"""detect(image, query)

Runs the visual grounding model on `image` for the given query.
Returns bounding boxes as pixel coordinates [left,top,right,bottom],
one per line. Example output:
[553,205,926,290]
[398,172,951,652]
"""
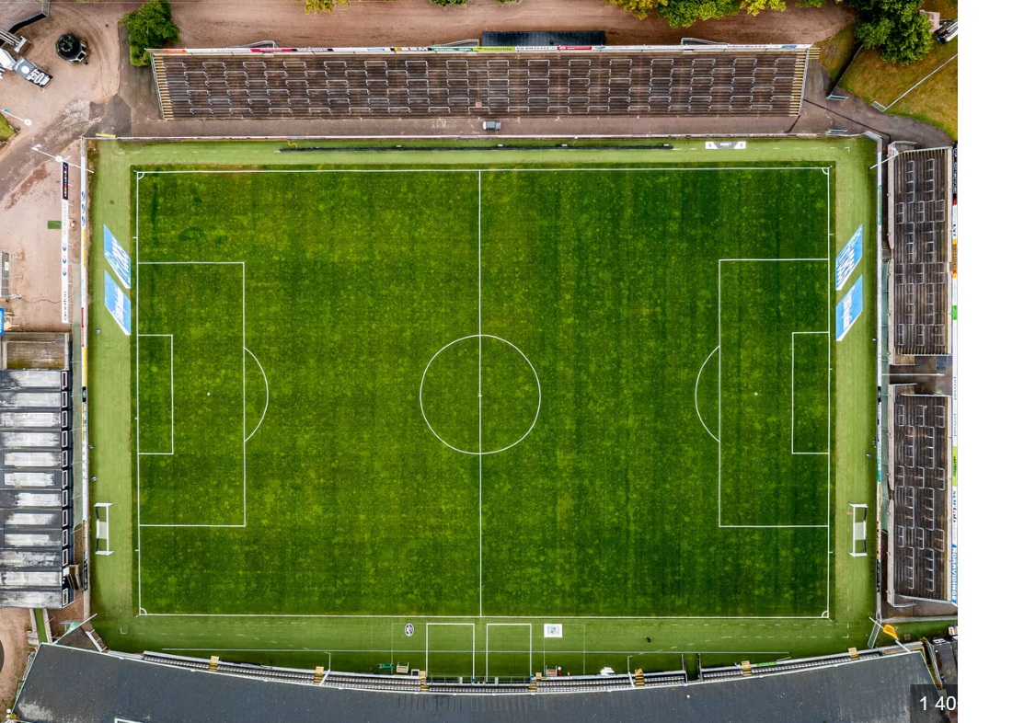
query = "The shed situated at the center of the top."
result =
[483,31,605,51]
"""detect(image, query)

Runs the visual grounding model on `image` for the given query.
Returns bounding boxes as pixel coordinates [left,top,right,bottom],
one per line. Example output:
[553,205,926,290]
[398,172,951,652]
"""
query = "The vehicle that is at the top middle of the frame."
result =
[483,118,501,130]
